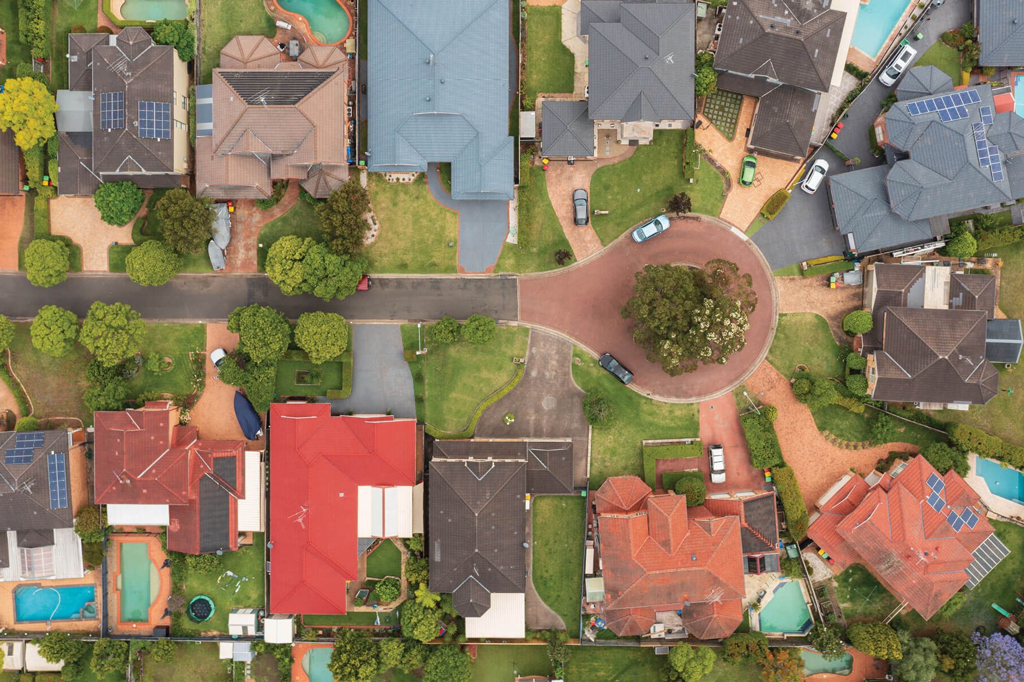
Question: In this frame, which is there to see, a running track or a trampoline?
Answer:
trampoline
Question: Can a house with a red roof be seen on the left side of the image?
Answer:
Yes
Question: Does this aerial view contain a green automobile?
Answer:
Yes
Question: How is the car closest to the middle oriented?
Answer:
diagonally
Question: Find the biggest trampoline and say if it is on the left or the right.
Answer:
left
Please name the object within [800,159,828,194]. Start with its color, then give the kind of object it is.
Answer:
white car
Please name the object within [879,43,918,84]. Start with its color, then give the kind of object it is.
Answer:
white vehicle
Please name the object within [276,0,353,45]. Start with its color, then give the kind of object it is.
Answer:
green swimming pool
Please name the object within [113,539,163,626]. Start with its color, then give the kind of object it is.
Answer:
green swimming pool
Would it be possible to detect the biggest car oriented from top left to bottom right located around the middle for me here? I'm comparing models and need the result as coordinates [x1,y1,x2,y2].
[599,353,635,384]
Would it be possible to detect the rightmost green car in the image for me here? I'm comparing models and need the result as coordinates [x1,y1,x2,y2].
[738,155,757,188]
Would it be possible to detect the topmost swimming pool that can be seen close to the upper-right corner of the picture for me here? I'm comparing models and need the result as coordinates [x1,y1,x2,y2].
[849,0,910,63]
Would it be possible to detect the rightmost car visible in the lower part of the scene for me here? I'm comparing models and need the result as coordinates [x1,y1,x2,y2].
[708,443,727,483]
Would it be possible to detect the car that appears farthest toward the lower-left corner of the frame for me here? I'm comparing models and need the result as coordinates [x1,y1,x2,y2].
[213,351,230,371]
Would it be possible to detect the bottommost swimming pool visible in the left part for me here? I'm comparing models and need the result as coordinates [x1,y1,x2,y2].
[299,646,335,682]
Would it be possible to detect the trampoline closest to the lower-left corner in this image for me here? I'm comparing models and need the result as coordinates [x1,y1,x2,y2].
[188,596,216,622]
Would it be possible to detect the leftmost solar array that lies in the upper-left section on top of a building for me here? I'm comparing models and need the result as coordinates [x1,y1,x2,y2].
[100,91,124,129]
